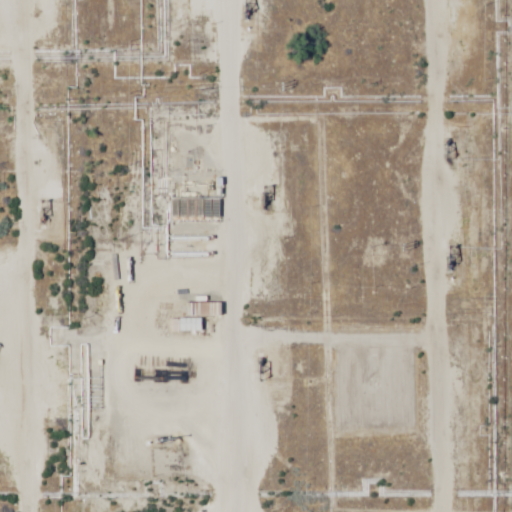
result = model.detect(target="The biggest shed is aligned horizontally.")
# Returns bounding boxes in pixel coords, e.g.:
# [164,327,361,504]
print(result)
[172,198,220,220]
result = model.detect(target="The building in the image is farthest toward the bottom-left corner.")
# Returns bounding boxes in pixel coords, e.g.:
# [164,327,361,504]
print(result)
[171,318,202,335]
